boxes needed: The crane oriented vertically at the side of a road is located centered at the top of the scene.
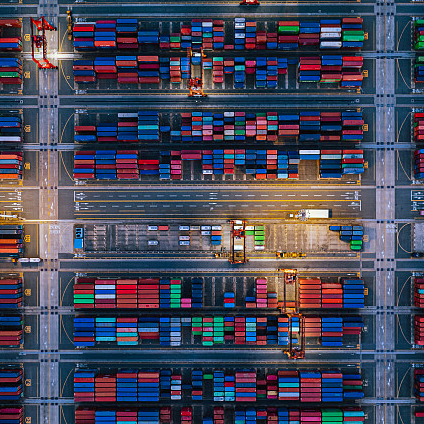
[187,45,206,98]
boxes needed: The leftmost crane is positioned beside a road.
[29,14,55,68]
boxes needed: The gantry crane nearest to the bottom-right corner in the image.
[284,308,306,360]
